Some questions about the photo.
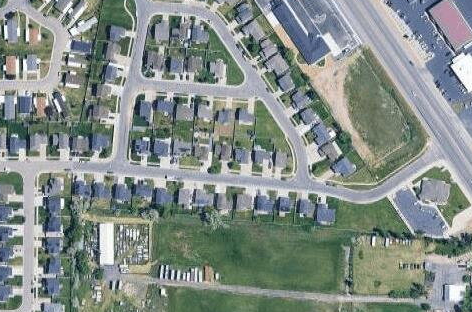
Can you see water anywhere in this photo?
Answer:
No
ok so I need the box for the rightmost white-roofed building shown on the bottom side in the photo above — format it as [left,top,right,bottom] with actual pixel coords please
[446,285,467,301]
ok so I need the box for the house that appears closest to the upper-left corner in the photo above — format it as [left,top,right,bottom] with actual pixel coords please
[4,19,21,42]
